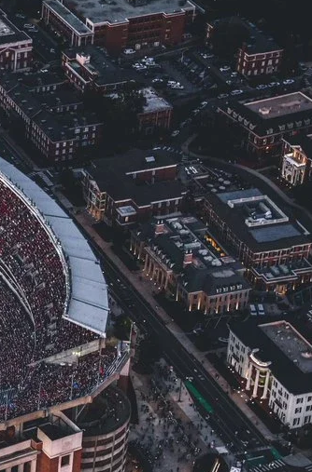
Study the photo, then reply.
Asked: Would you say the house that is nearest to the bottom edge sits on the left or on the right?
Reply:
right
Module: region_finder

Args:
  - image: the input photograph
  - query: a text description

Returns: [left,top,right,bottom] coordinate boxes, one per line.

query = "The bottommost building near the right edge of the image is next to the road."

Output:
[224,316,312,428]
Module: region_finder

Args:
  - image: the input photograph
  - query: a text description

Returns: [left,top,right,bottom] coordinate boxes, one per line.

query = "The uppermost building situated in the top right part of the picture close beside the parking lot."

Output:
[205,16,284,74]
